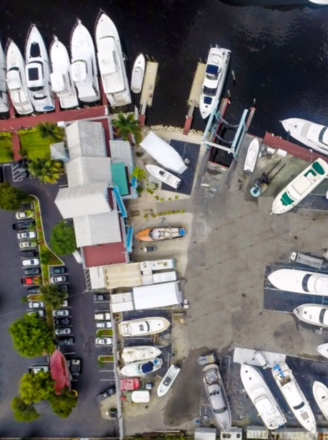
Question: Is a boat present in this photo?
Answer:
Yes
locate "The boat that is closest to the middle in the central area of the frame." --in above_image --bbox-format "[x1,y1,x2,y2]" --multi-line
[135,227,187,242]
